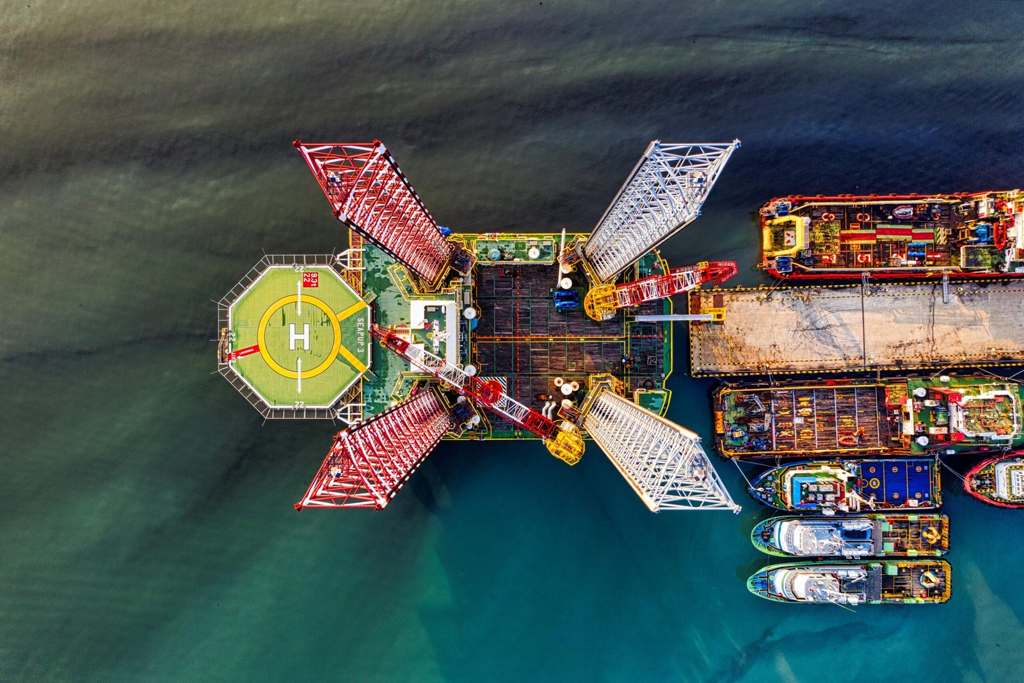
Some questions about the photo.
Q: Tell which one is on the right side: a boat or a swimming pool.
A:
boat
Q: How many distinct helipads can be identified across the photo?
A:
1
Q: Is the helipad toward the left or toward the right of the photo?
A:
left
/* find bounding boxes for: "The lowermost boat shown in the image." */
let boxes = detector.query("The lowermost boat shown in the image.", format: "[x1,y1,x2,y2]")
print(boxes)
[744,558,954,613]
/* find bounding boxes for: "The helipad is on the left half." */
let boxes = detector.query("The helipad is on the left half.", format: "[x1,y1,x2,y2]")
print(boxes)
[209,247,378,426]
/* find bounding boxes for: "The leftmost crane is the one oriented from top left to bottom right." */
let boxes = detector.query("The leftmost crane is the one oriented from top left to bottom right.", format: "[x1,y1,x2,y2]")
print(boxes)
[367,323,584,460]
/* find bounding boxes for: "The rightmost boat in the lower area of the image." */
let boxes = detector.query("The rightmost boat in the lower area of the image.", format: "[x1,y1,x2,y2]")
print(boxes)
[953,448,1024,511]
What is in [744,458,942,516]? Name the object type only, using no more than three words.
boat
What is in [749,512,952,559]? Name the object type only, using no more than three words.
boat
